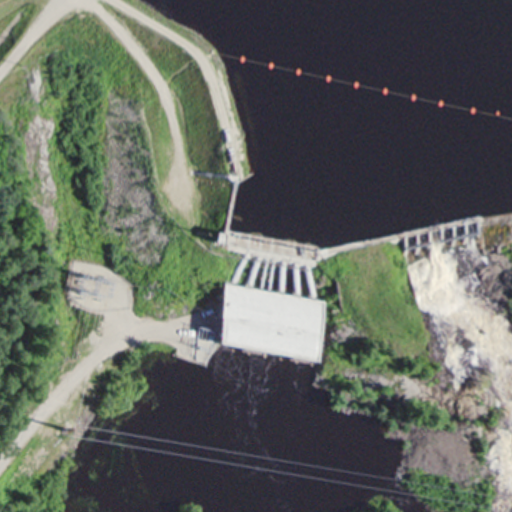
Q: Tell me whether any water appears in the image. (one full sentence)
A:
Yes, water can be seen from above here.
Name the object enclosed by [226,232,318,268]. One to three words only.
dam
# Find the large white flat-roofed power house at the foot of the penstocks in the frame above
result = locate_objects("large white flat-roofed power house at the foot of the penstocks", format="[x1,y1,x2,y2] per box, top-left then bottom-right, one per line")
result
[221,286,326,362]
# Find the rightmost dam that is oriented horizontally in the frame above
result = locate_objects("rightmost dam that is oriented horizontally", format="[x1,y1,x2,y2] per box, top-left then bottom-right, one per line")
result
[401,218,482,252]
